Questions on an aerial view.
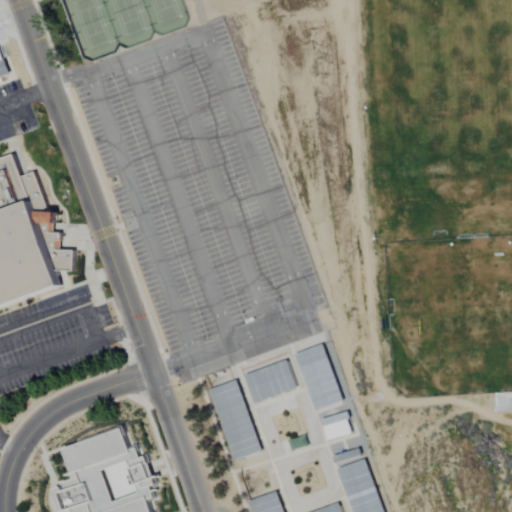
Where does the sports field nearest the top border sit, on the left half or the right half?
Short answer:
right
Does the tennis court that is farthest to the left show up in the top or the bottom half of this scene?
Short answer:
top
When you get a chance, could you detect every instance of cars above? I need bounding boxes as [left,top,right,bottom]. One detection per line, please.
[2,88,8,97]
[12,82,18,92]
[21,122,27,131]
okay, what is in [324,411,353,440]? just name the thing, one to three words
shed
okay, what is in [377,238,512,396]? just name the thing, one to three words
sports field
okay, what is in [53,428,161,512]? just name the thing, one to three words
building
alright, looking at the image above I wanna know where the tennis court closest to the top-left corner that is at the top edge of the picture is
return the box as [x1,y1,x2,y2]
[64,0,120,59]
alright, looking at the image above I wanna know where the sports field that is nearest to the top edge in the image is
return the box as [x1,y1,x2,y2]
[365,0,512,240]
